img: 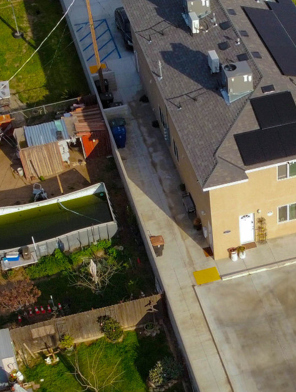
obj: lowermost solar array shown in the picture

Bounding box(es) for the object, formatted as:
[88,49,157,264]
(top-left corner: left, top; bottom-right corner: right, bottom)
[233,90,296,167]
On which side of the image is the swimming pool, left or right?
left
